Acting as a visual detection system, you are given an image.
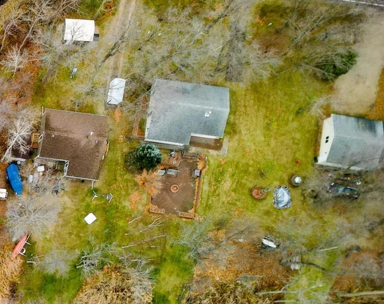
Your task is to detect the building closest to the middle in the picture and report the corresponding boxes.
[132,78,230,159]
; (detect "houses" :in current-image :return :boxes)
[31,106,108,189]
[132,78,230,159]
[314,113,384,172]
